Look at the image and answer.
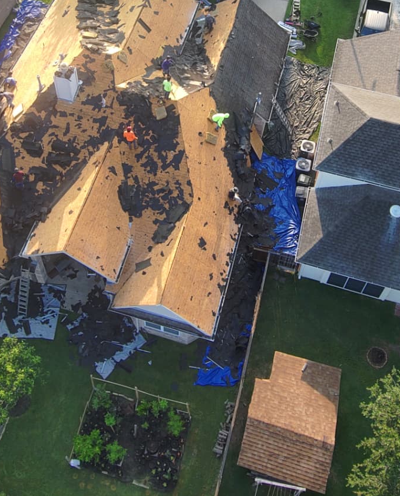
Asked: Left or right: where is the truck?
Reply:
right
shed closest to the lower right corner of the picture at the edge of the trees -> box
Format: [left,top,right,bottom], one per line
[236,357,340,495]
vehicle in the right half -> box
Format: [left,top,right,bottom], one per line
[355,0,392,35]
